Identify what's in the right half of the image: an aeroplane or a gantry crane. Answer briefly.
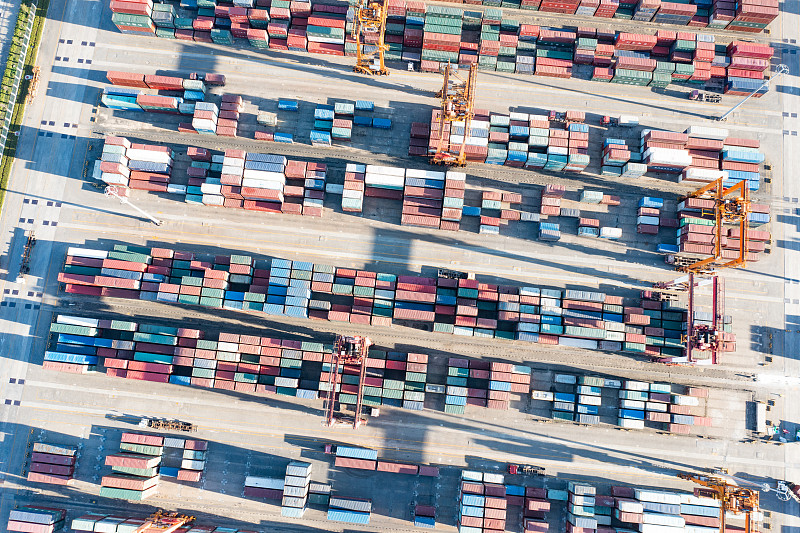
gantry crane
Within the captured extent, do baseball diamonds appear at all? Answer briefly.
No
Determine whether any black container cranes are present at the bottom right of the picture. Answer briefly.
No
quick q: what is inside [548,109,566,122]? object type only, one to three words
vehicle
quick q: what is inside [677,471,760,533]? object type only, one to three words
container crane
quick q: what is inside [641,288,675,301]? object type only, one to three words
vehicle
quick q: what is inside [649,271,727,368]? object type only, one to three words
container crane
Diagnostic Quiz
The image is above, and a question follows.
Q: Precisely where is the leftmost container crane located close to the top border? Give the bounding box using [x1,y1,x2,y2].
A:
[350,0,401,77]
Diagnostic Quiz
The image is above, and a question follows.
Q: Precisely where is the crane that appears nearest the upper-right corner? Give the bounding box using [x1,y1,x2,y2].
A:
[676,173,754,277]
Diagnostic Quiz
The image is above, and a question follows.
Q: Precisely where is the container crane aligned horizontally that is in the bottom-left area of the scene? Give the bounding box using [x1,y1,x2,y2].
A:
[123,509,192,533]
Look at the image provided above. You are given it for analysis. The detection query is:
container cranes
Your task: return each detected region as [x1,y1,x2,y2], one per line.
[676,173,754,277]
[677,471,760,533]
[649,271,727,368]
[123,509,192,533]
[427,59,482,169]
[325,331,378,427]
[350,0,401,77]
